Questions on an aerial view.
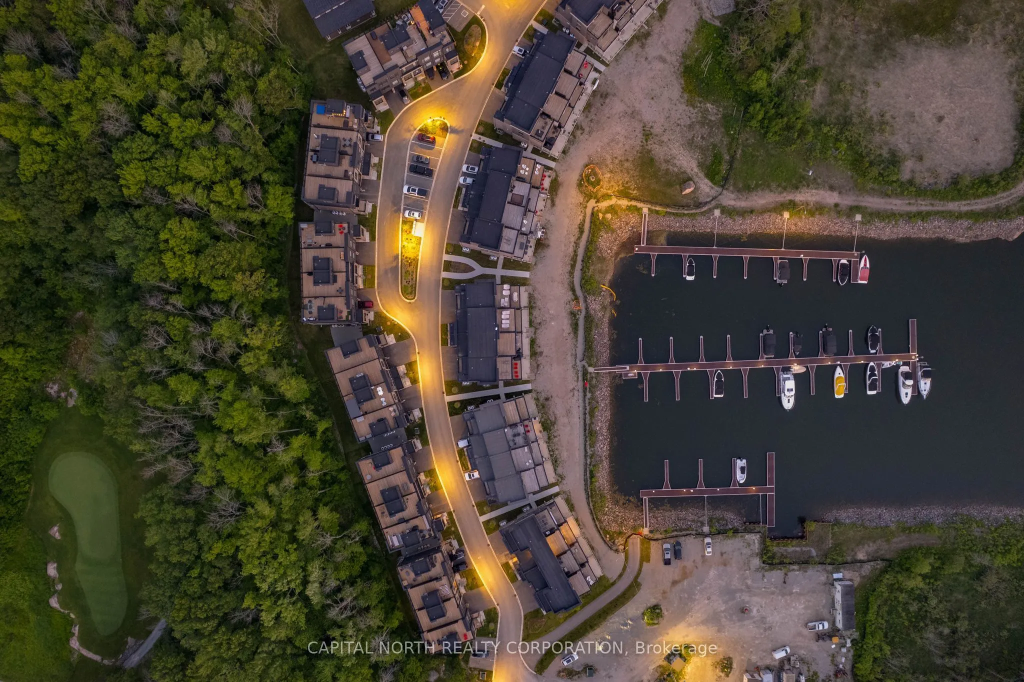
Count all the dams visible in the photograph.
0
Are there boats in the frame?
Yes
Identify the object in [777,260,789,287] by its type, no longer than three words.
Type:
boat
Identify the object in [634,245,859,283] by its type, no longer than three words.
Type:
pier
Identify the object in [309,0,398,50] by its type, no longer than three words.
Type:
house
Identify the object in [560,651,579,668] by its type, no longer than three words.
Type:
car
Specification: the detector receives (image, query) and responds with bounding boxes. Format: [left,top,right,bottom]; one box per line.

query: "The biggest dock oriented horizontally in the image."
[616,319,918,401]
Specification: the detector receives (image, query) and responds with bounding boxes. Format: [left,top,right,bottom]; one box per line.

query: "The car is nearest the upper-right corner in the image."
[512,44,530,56]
